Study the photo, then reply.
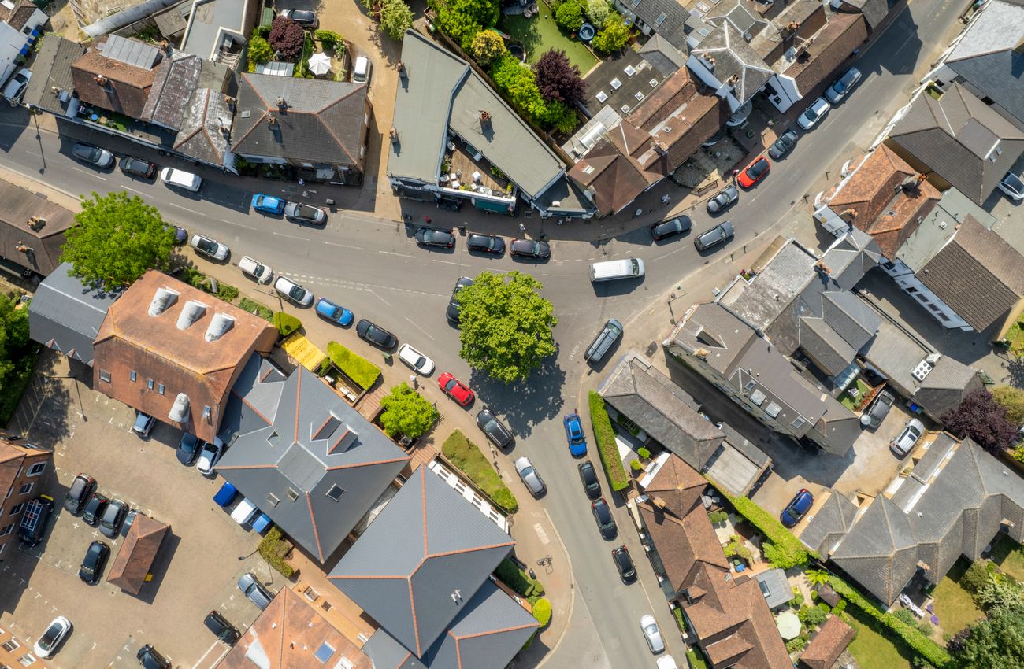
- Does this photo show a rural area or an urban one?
urban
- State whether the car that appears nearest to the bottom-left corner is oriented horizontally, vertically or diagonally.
diagonally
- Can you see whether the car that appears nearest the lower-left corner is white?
Yes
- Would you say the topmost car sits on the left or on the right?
left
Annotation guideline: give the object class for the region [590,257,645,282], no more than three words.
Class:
vehicle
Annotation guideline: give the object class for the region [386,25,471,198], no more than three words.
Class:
building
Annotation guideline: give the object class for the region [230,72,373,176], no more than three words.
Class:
house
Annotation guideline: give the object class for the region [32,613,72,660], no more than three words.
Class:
car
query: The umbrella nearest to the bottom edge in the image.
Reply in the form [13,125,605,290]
[776,613,801,639]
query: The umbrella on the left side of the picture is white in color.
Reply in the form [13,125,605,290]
[307,51,331,75]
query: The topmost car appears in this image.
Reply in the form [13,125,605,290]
[282,4,320,28]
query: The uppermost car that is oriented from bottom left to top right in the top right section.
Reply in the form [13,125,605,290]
[822,63,867,104]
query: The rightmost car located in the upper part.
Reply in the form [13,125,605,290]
[995,174,1024,208]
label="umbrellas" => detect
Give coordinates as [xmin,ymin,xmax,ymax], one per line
[776,613,801,639]
[307,51,331,75]
[659,193,671,204]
